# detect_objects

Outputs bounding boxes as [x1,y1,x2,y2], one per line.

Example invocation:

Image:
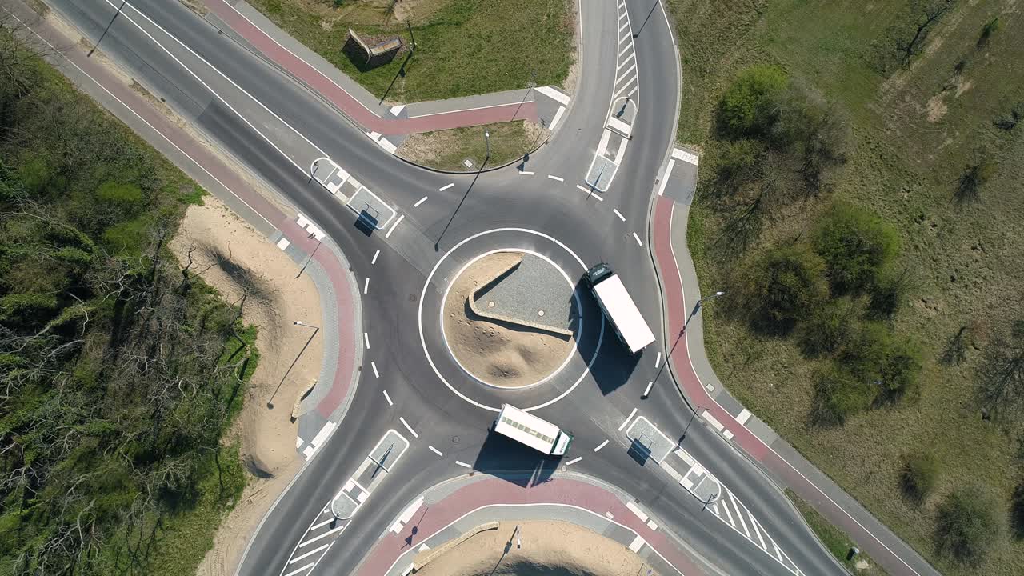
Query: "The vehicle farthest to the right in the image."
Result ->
[580,258,656,355]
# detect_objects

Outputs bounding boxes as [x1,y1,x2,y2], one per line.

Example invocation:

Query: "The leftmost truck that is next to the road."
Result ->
[493,403,580,463]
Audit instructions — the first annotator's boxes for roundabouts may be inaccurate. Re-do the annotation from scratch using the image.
[371,181,652,462]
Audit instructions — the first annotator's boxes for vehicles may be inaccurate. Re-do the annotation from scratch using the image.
[493,403,580,463]
[580,258,656,355]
